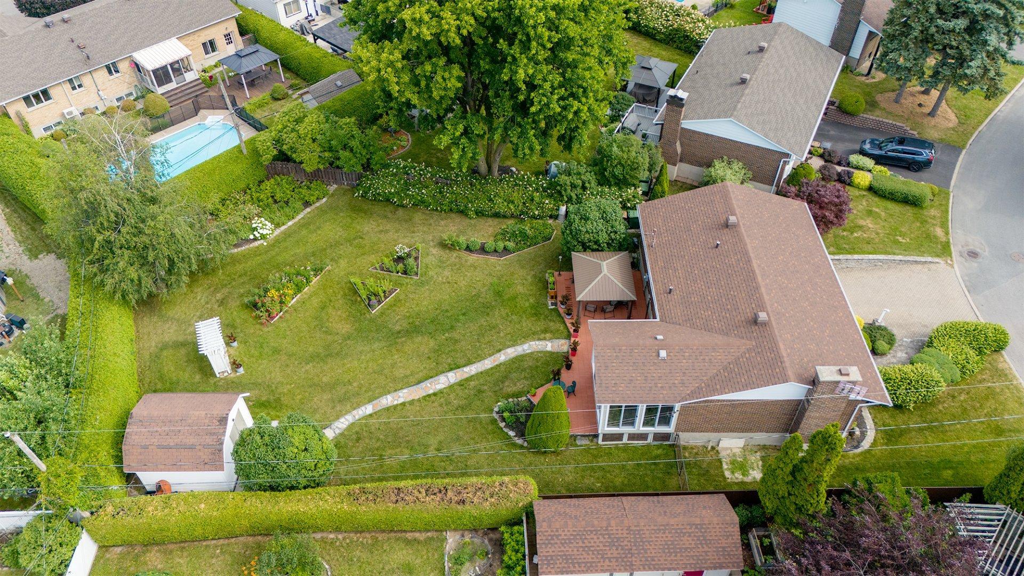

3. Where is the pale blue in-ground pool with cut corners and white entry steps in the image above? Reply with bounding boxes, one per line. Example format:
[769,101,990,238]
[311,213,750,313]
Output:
[110,115,246,178]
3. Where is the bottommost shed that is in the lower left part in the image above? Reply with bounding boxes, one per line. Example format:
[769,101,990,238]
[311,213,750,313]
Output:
[121,395,259,491]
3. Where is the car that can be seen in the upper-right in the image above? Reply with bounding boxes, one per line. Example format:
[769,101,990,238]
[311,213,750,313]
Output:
[860,132,934,168]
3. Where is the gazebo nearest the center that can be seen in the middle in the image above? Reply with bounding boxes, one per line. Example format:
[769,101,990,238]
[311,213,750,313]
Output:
[571,250,637,328]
